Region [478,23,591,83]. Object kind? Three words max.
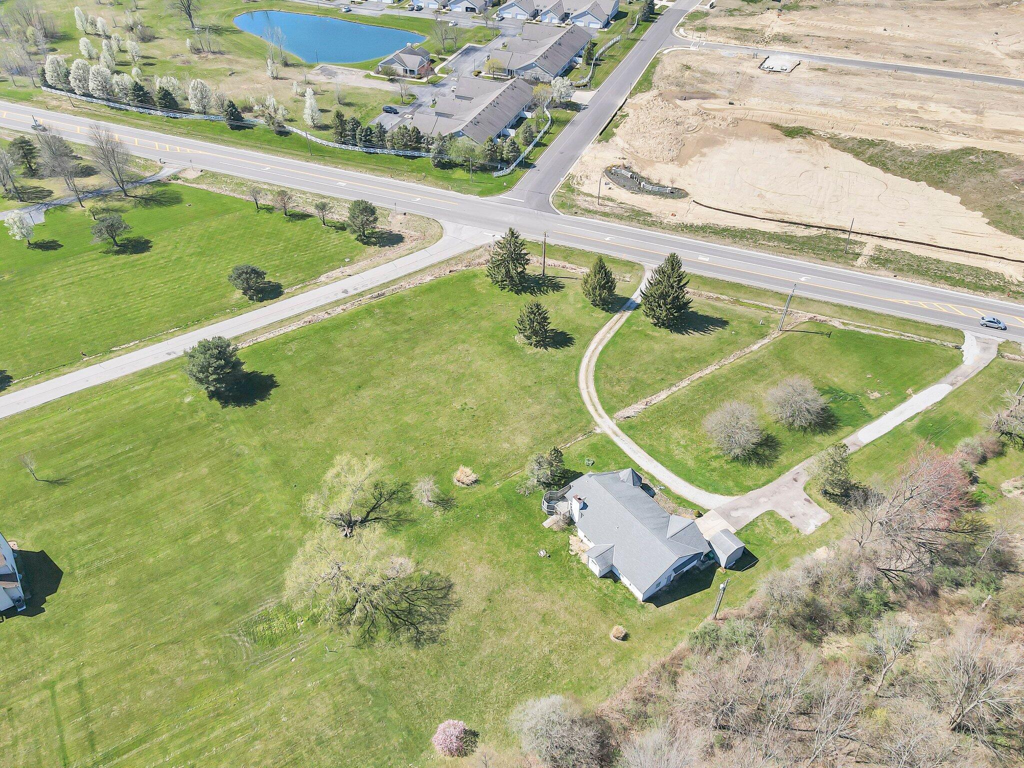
house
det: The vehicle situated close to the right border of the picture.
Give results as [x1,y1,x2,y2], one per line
[981,315,1008,328]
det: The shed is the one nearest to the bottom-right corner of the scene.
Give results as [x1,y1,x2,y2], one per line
[709,529,746,567]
